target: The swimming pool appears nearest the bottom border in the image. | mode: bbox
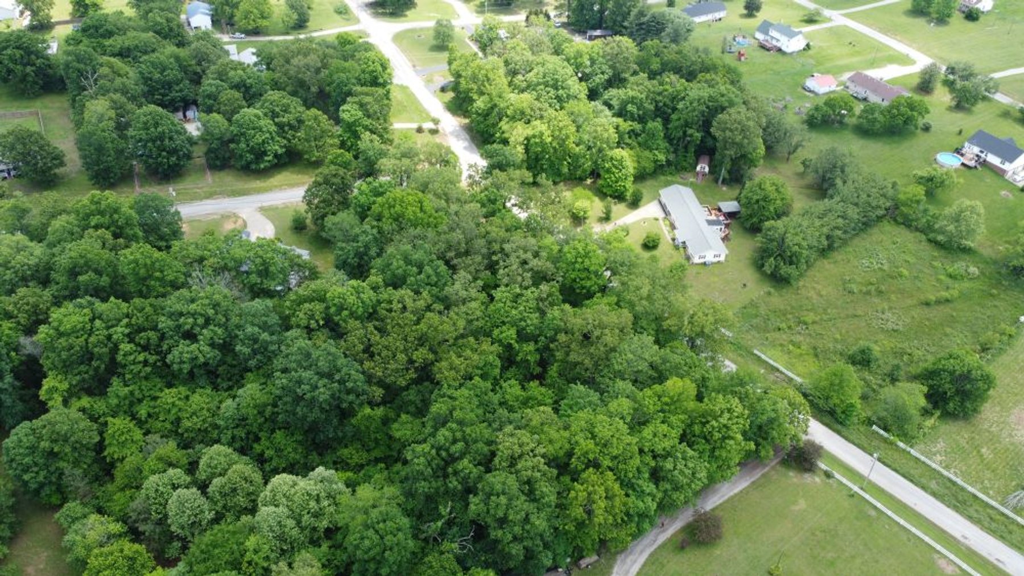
[931,153,967,170]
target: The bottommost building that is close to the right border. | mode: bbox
[957,132,1024,181]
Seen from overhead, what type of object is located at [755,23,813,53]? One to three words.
house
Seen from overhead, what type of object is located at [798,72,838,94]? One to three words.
shed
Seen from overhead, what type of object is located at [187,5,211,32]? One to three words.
house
